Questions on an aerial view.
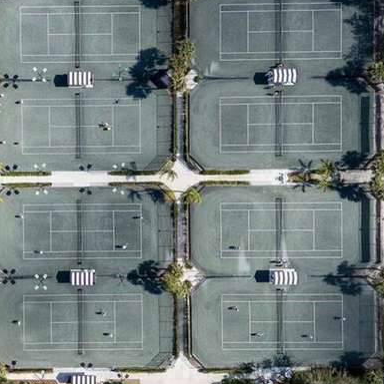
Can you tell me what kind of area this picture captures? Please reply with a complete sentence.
What you see here is a sports ground.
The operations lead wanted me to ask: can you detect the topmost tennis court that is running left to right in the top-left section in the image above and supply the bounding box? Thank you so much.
[0,0,173,80]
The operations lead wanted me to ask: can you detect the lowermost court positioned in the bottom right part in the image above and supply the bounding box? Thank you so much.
[191,278,376,368]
